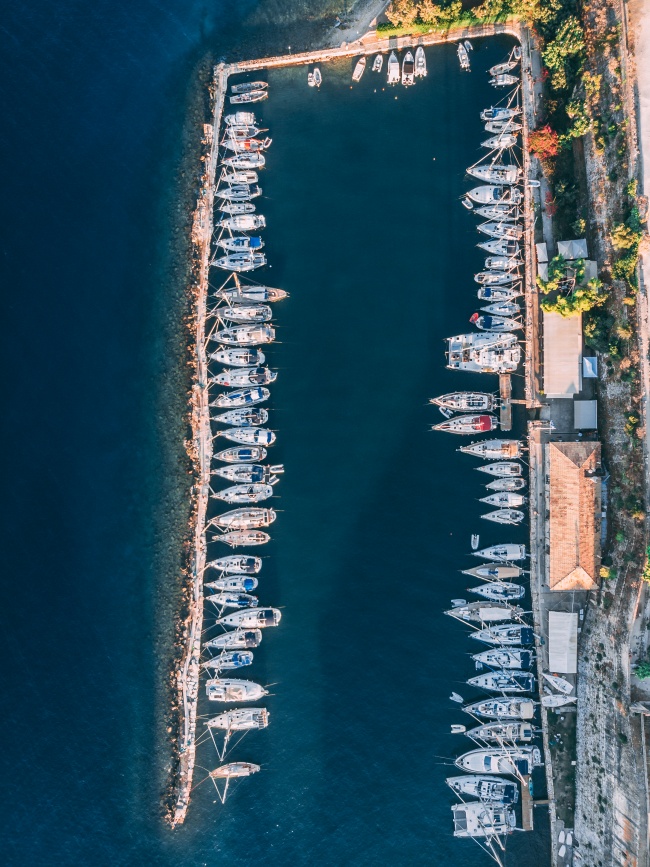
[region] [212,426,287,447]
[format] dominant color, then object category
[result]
white boat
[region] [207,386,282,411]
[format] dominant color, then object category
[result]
white boat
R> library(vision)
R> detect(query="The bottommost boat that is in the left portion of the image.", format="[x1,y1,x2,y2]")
[190,760,277,809]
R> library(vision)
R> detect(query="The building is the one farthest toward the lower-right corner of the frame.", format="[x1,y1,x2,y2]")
[545,609,577,673]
